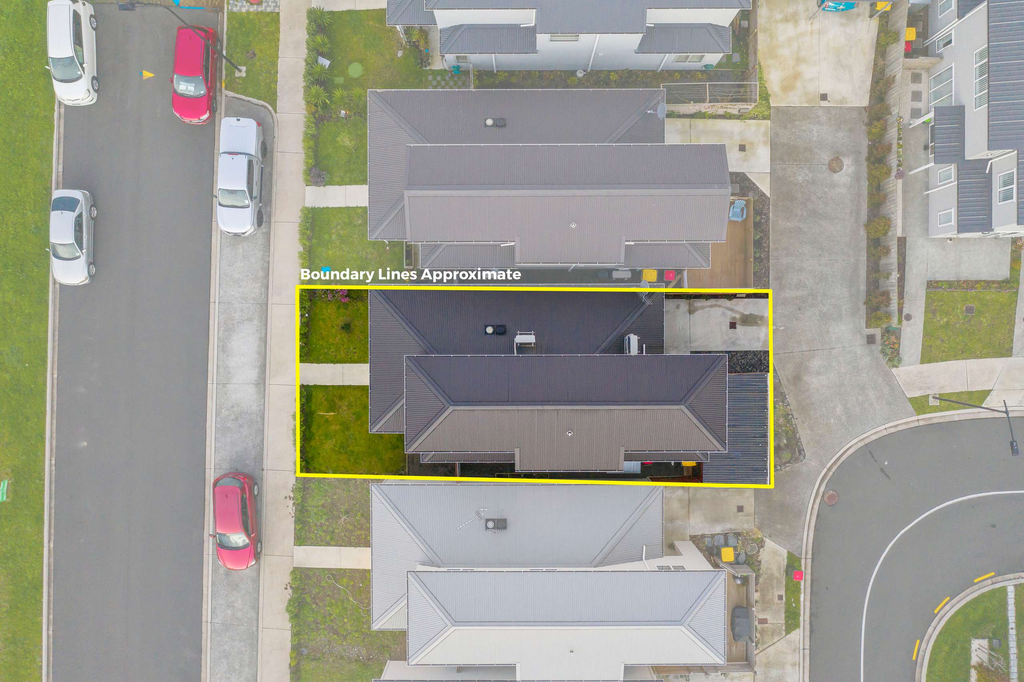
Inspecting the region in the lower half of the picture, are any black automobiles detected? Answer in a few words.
No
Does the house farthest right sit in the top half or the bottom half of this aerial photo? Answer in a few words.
top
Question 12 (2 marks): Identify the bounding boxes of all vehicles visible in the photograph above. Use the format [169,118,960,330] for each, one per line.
[210,117,267,238]
[43,187,97,287]
[212,473,261,568]
[44,0,99,107]
[165,24,222,123]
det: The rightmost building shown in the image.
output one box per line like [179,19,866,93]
[907,0,1024,238]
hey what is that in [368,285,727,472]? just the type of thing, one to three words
house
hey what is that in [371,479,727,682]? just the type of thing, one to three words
house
